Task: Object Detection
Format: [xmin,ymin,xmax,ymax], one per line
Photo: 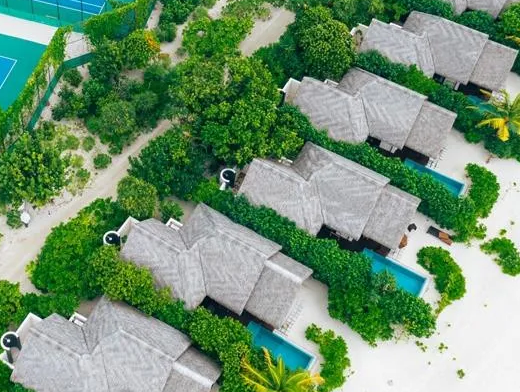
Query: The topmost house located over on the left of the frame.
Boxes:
[100,198,313,340]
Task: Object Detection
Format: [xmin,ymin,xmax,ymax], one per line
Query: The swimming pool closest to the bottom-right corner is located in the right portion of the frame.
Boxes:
[363,243,431,300]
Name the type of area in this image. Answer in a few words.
residential area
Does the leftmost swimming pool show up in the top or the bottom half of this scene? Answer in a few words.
bottom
